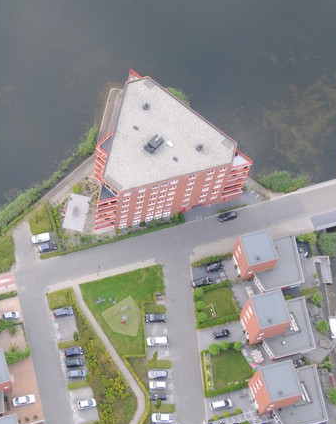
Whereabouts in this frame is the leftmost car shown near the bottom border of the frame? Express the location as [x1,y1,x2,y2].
[10,394,38,407]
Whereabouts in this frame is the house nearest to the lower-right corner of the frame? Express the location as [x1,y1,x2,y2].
[251,359,329,424]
